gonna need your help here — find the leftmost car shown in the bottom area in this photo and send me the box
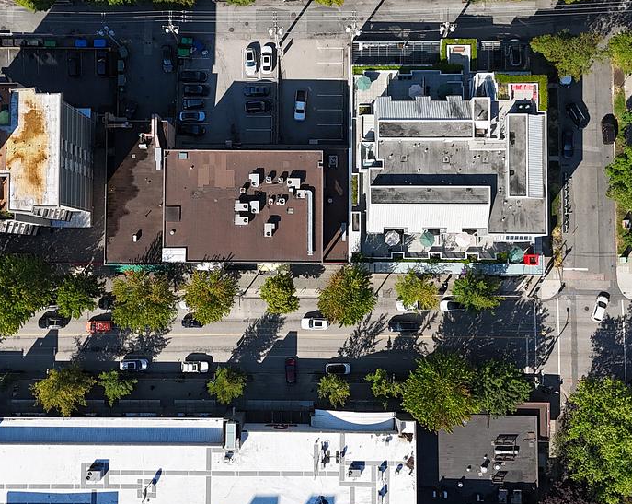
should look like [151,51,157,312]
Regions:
[40,318,68,330]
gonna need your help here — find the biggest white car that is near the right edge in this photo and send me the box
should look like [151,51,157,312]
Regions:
[591,293,608,321]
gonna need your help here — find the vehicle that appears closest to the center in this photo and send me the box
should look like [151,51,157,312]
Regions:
[301,319,329,331]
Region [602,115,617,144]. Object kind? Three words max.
car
